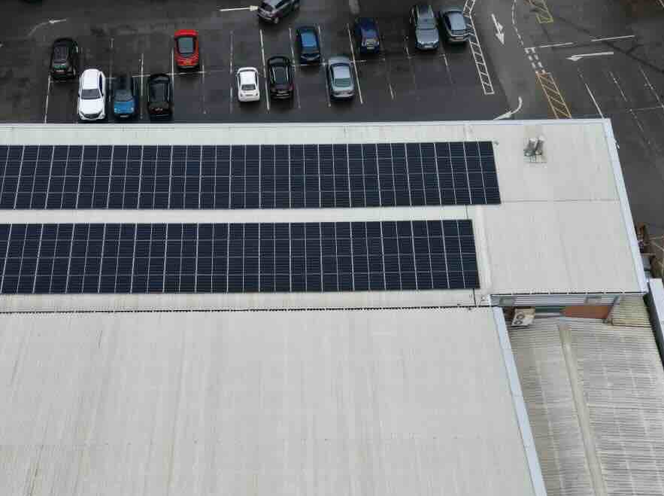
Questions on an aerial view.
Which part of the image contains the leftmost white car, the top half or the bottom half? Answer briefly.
top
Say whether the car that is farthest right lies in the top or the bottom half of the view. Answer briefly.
top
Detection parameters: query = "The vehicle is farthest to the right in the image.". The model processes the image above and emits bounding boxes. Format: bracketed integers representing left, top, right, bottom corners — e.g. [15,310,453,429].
[442,9,470,47]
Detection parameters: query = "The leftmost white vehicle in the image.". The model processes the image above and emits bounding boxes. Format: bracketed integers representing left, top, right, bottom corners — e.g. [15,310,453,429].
[75,67,106,121]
